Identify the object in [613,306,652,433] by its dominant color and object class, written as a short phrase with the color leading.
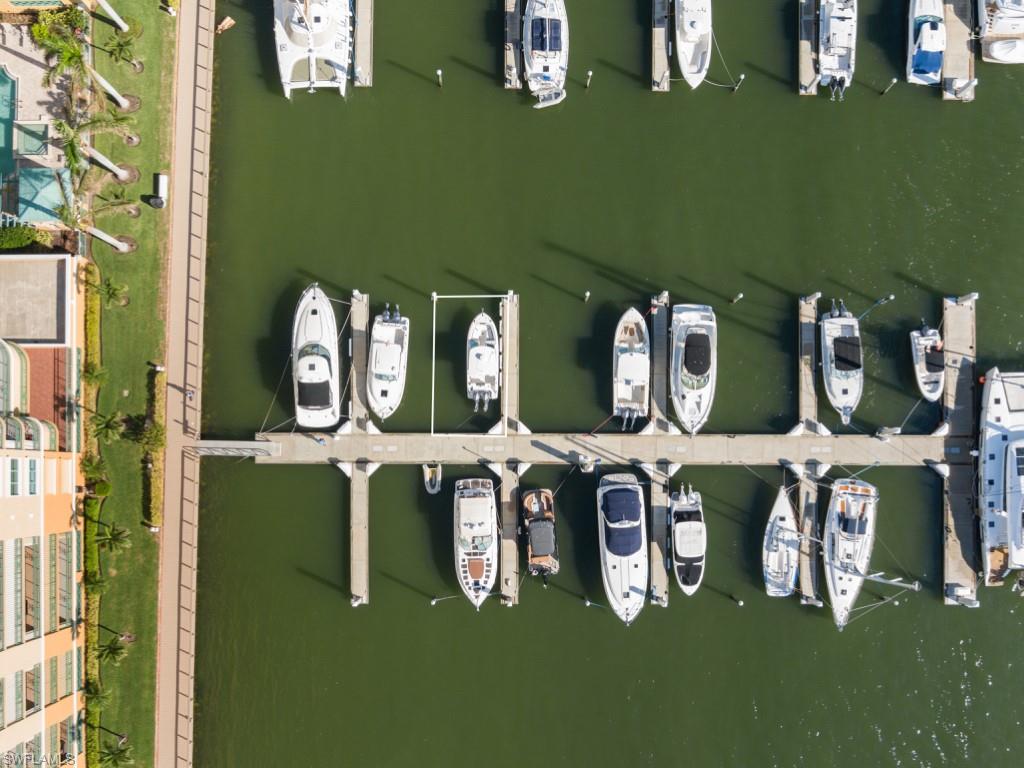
white boat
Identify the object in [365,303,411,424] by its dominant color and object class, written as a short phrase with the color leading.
white boat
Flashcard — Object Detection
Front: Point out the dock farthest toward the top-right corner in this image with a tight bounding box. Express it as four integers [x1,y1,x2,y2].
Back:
[941,0,974,101]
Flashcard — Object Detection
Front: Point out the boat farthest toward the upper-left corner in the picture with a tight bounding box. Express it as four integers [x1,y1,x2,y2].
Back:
[274,0,354,107]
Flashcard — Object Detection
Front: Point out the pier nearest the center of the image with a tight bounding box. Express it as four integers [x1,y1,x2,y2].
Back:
[498,293,519,433]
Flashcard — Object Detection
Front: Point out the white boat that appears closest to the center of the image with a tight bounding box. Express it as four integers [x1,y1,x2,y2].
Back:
[467,308,499,415]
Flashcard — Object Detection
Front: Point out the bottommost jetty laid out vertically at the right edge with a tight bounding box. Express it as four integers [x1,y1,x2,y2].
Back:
[941,297,976,605]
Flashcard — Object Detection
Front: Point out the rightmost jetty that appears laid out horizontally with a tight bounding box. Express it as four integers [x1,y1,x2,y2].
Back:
[255,433,943,465]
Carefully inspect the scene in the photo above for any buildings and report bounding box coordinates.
[0,0,69,14]
[0,252,86,768]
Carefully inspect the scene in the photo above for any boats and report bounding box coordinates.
[596,473,648,627]
[762,487,827,596]
[975,0,1024,64]
[976,367,1024,587]
[294,280,345,429]
[669,478,705,596]
[524,488,558,590]
[817,0,857,104]
[529,93,567,115]
[674,0,712,94]
[902,0,946,89]
[823,477,929,630]
[523,0,570,96]
[423,463,441,493]
[613,306,652,433]
[467,308,499,415]
[817,300,870,425]
[1013,571,1024,598]
[274,0,354,107]
[667,305,716,436]
[365,303,411,424]
[909,315,946,402]
[453,479,500,612]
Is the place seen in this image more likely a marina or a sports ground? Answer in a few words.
marina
